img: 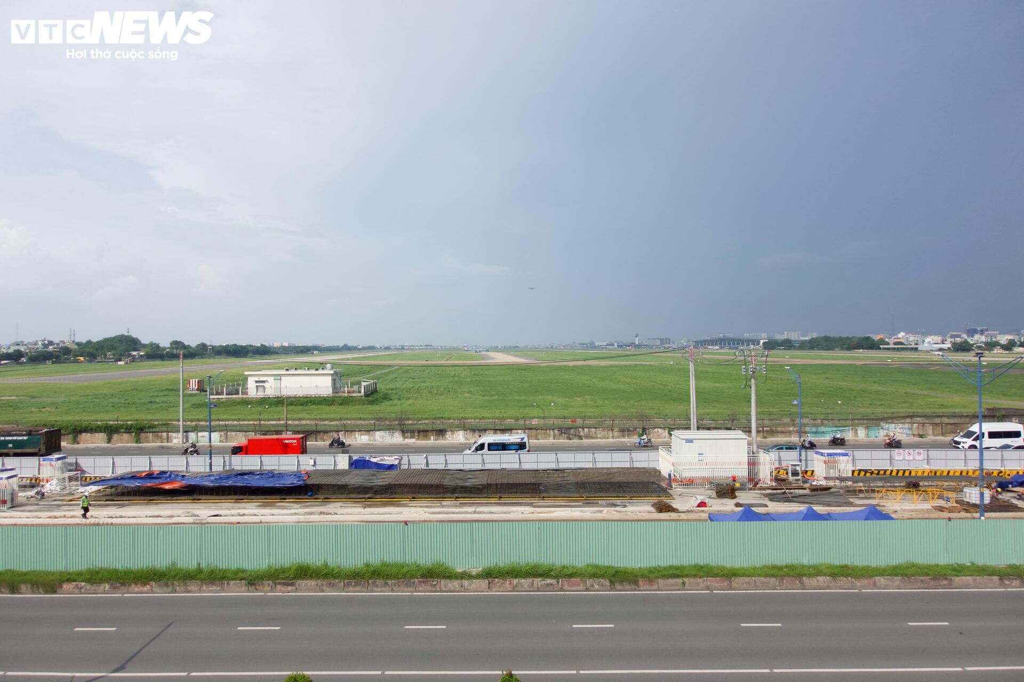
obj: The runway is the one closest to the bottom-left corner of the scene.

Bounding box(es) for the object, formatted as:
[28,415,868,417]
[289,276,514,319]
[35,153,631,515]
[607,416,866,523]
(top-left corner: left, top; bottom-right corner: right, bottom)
[0,358,318,383]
